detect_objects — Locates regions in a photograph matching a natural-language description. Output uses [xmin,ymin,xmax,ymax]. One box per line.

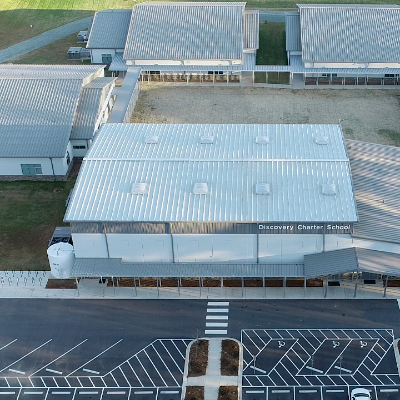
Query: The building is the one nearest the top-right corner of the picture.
[286,4,400,82]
